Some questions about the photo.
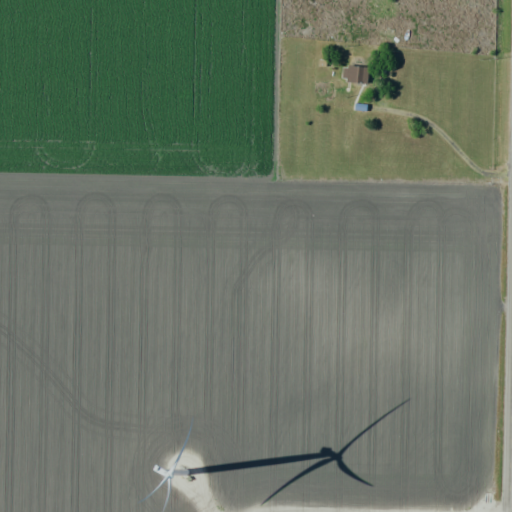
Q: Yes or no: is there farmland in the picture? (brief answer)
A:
Yes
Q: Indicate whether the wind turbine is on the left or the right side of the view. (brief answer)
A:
left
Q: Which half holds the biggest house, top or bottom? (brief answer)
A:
top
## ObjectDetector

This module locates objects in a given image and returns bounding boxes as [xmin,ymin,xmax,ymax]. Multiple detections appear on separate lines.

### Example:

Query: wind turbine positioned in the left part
[139,422,194,512]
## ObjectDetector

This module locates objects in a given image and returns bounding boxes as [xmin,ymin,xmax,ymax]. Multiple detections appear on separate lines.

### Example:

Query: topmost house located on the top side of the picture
[344,65,368,85]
